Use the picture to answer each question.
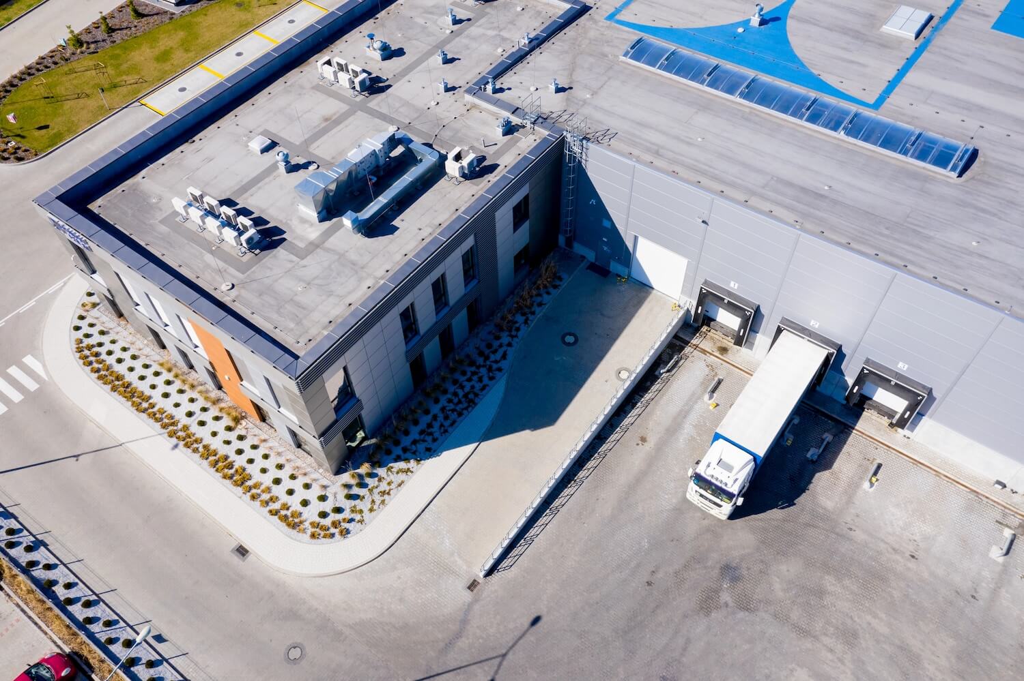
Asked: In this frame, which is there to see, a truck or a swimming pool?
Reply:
truck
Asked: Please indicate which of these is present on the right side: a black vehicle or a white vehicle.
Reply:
white vehicle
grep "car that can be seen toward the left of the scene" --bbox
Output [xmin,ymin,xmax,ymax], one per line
[4,651,76,681]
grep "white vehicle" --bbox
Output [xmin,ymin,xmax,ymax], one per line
[686,327,830,524]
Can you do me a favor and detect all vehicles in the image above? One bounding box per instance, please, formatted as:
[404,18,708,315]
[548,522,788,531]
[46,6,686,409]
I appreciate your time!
[4,651,76,681]
[686,327,830,524]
